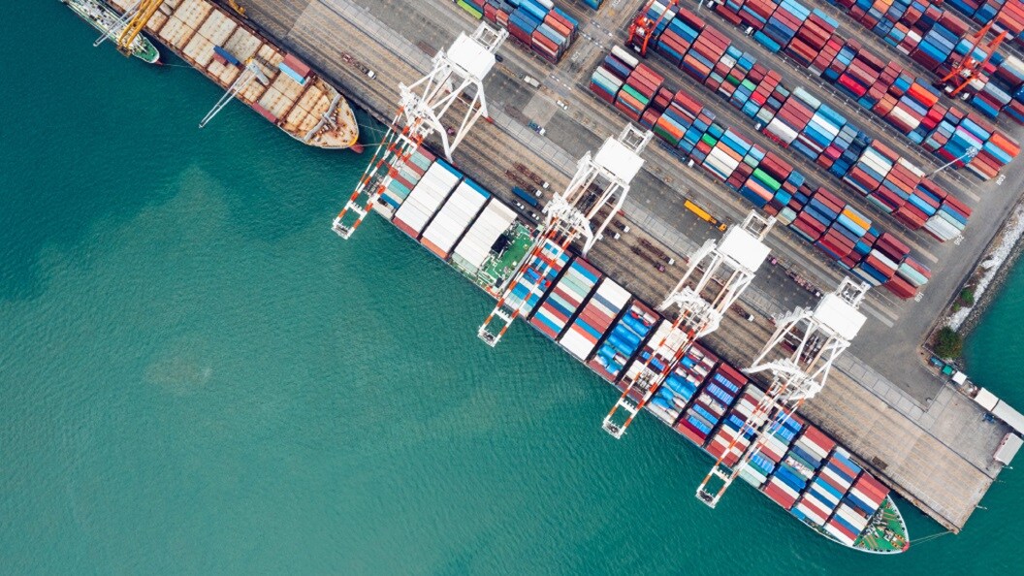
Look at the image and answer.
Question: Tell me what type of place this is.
port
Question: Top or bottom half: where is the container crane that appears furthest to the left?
top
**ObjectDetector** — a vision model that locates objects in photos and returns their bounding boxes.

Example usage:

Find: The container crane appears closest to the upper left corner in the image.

[113,0,176,57]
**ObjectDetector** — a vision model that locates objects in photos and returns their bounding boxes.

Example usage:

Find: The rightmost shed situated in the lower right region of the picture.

[990,432,1024,466]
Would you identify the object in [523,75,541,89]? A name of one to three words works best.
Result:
vehicle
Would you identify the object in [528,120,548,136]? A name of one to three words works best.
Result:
vehicle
